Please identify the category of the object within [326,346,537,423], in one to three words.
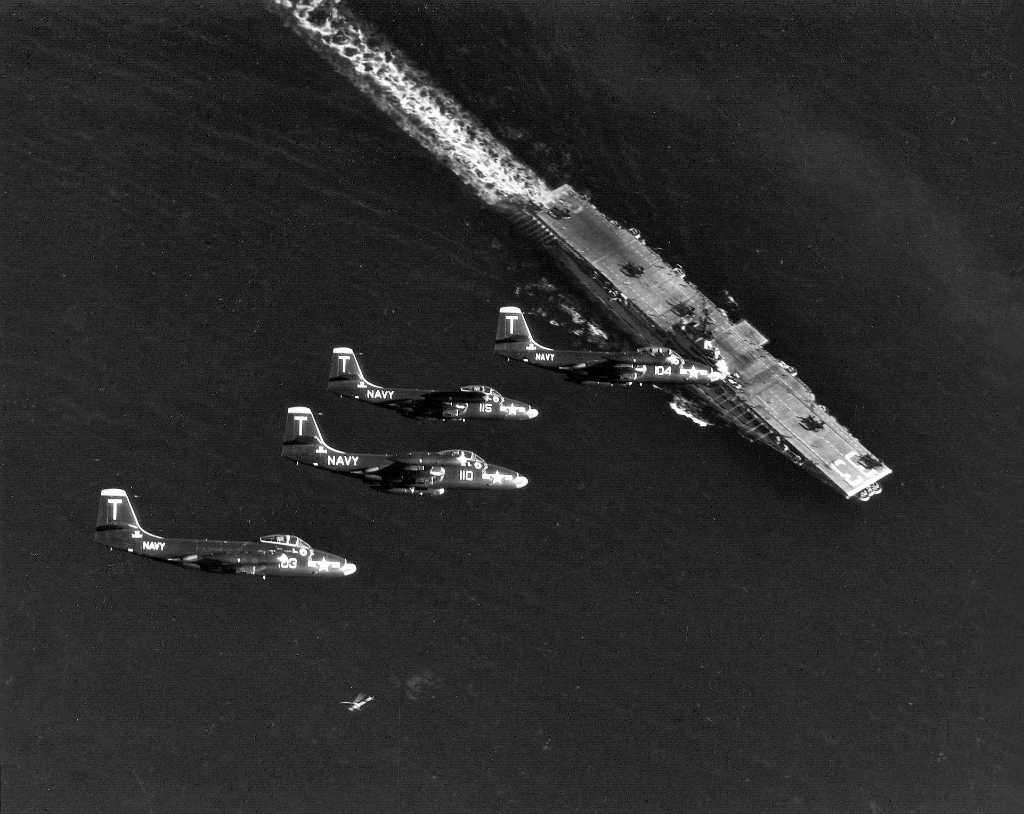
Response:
airplane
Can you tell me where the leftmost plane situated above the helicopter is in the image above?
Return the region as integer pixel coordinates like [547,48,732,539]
[94,489,356,581]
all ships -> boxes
[516,184,892,503]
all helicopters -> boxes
[343,694,374,718]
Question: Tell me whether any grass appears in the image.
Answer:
No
